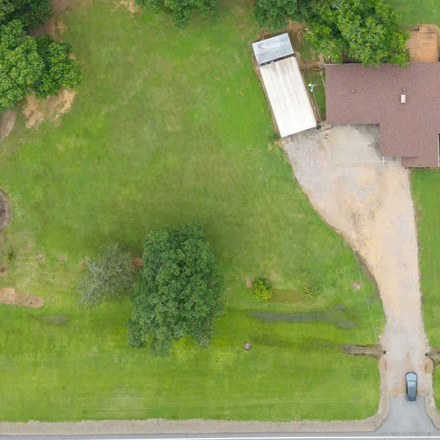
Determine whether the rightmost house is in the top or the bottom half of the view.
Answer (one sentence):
Seen from above, the rightmost house lies in the top half of the view.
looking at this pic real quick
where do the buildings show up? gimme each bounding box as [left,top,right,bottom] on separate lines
[252,33,294,65]
[260,56,316,138]
[325,61,440,167]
